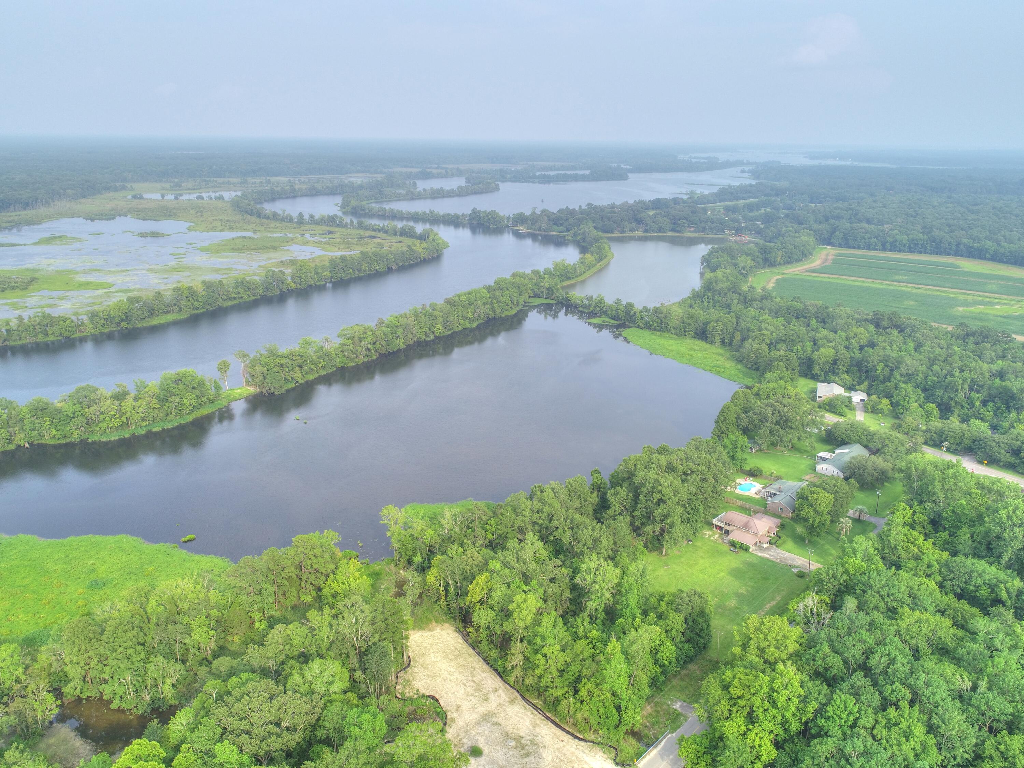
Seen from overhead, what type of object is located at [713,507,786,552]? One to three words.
house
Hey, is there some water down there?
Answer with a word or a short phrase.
Yes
